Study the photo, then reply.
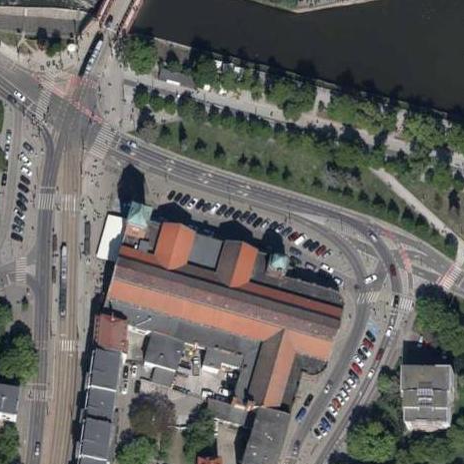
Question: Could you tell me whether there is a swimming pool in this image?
No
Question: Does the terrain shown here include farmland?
No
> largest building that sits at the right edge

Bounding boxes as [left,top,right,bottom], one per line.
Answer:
[397,366,457,435]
